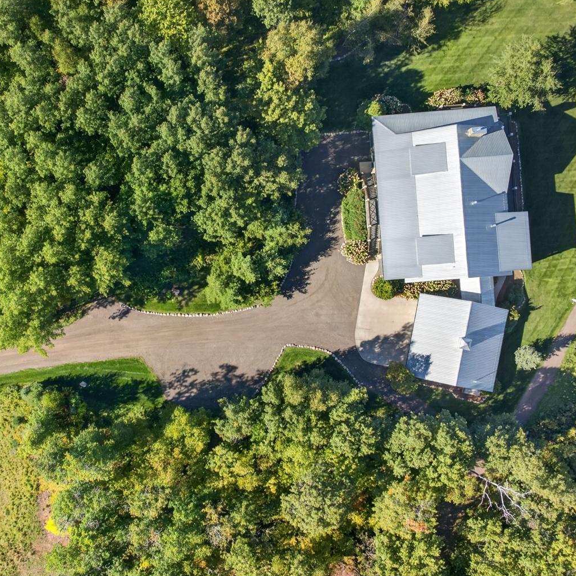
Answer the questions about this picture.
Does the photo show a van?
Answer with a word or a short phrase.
No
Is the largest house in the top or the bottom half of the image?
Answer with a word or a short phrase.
top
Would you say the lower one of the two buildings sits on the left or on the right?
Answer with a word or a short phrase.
right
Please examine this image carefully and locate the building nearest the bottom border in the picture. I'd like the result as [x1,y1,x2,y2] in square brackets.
[407,293,508,392]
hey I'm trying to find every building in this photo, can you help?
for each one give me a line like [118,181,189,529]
[407,293,508,392]
[367,107,533,283]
